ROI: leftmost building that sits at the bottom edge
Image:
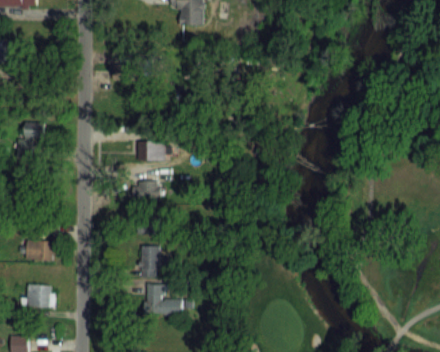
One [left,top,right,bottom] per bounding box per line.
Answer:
[10,336,32,352]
